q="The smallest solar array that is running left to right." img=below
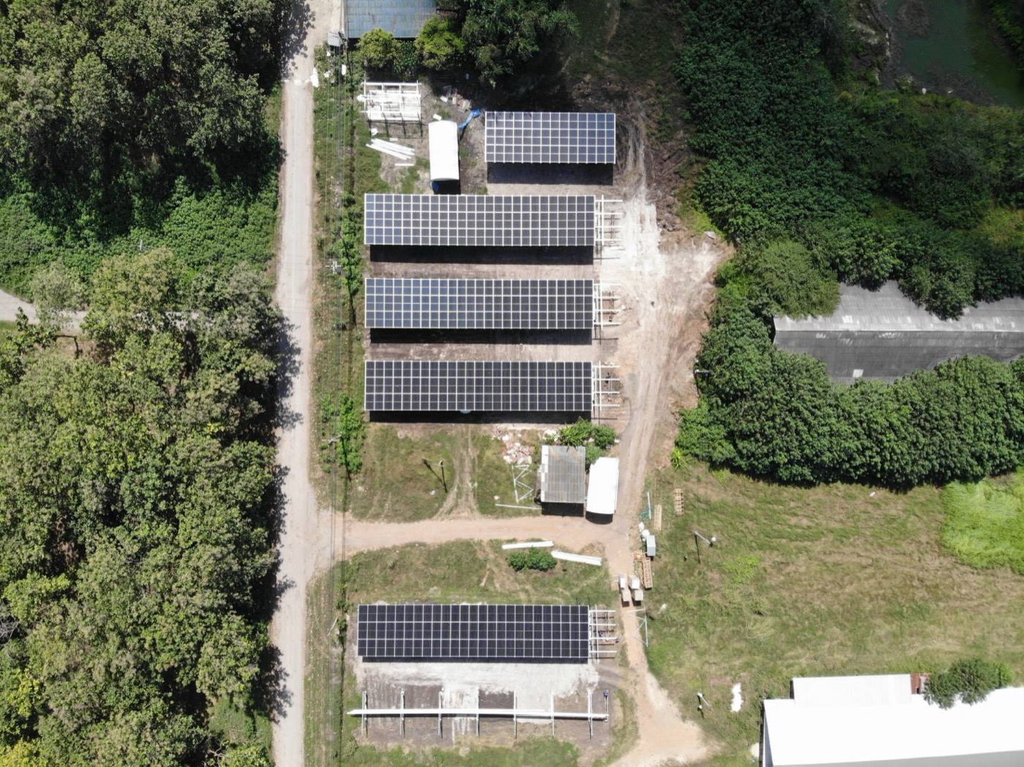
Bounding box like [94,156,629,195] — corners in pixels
[485,112,615,164]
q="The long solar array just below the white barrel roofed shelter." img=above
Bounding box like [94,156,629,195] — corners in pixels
[363,194,623,246]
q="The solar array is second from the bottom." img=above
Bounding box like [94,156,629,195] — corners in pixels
[364,361,620,411]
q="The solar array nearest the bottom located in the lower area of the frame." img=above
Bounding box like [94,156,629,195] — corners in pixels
[357,604,618,657]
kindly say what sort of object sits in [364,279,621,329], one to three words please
solar array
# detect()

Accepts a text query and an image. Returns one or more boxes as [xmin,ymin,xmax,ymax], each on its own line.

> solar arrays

[364,279,621,329]
[363,194,623,246]
[485,112,615,164]
[364,361,620,411]
[357,604,618,657]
